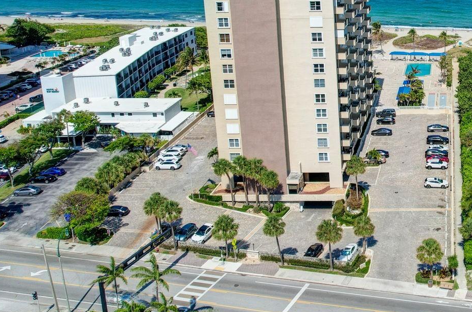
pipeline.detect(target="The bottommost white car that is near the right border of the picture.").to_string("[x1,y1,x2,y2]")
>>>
[424,176,450,189]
